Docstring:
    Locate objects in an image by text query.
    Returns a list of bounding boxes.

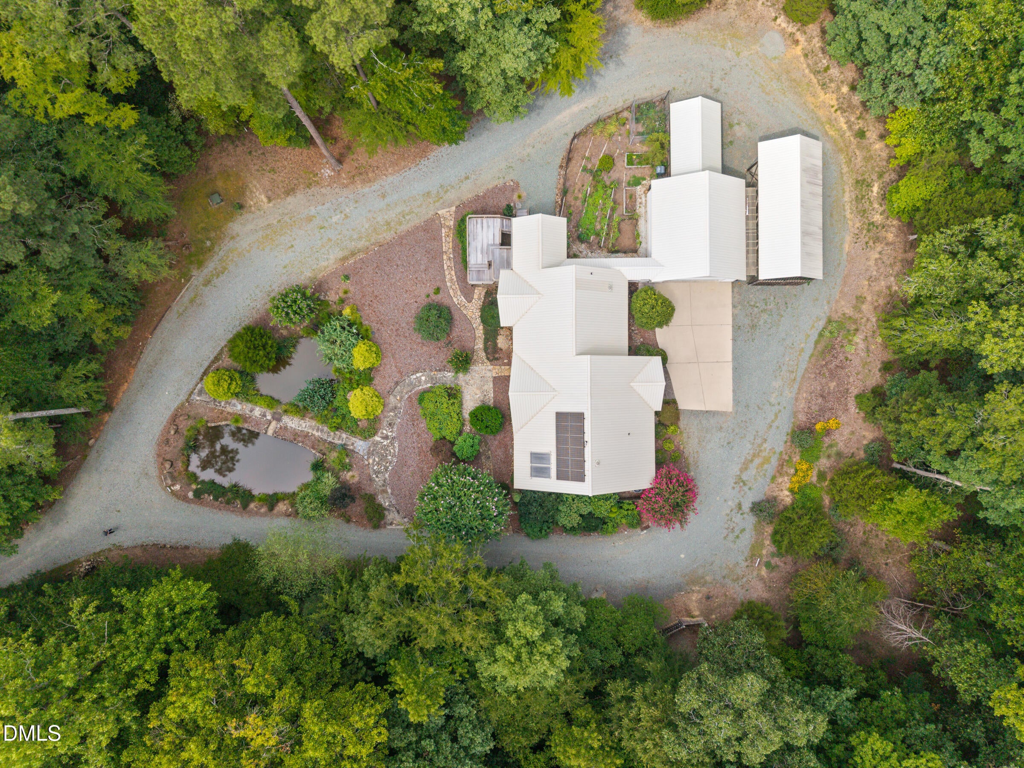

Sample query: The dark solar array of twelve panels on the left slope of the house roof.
[555,411,589,482]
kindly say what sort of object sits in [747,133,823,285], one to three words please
barn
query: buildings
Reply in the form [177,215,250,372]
[747,133,823,285]
[648,169,747,285]
[497,213,667,496]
